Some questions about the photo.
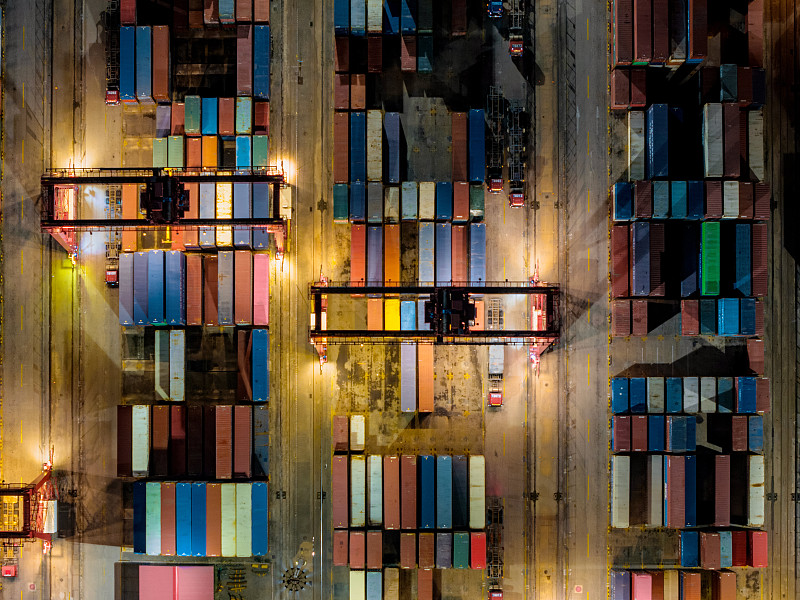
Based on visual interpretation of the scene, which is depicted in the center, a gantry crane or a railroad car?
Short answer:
gantry crane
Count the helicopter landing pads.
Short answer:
0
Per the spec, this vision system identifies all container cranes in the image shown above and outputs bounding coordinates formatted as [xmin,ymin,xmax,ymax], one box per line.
[309,257,566,374]
[0,445,61,562]
[36,154,294,271]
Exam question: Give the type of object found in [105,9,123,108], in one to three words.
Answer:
vehicle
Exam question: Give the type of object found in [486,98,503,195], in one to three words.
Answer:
vehicle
